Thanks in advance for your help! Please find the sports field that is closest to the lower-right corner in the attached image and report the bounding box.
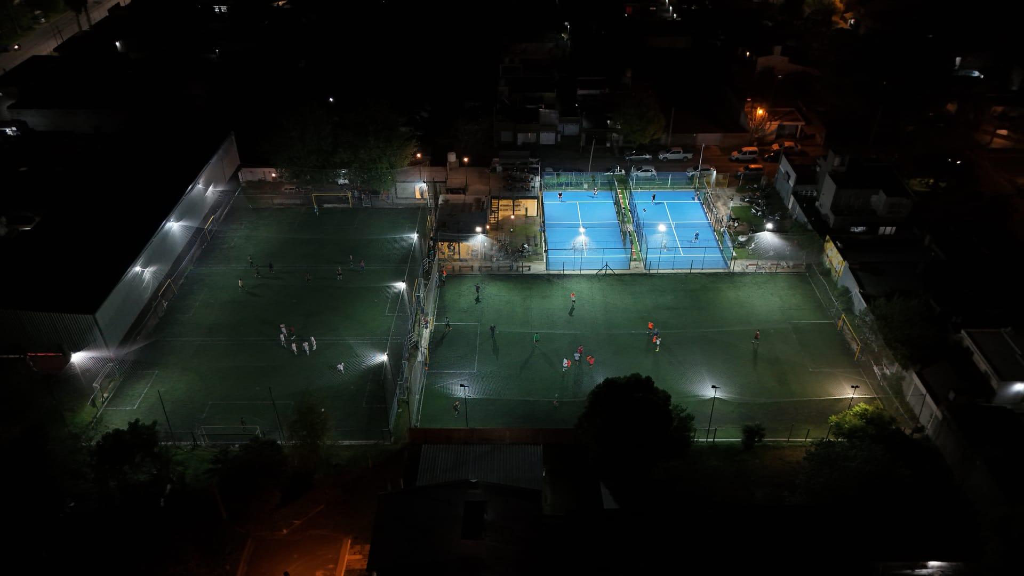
[415,273,882,439]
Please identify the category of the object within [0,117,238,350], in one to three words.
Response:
warehouse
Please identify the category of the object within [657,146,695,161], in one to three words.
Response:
vehicle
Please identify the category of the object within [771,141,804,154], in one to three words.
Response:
vehicle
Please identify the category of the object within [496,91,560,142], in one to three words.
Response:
house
